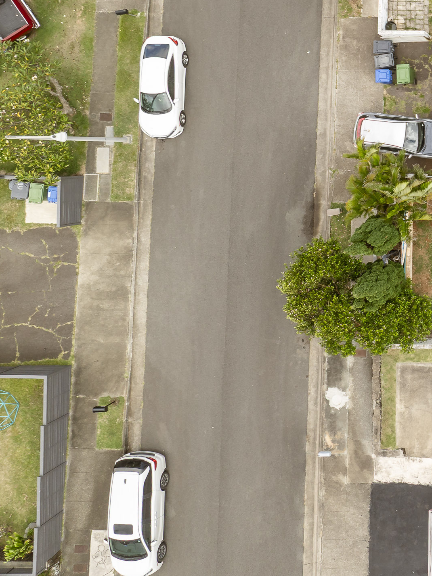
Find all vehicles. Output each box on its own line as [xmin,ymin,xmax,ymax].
[97,451,161,572]
[0,0,44,50]
[352,115,432,164]
[127,37,185,138]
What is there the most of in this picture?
paved ground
